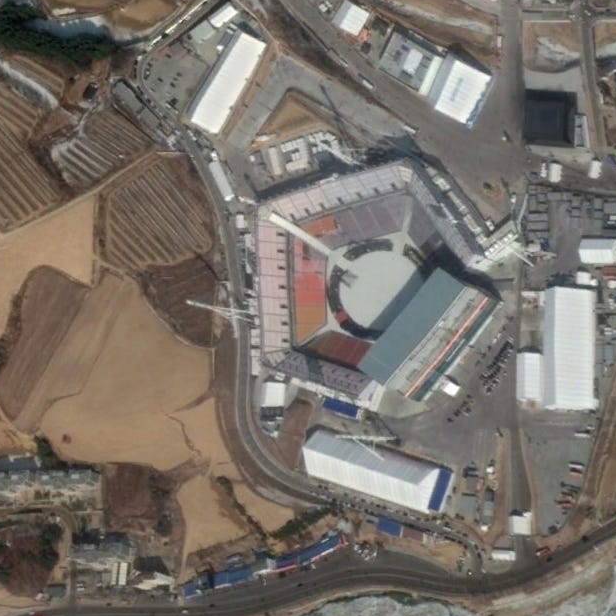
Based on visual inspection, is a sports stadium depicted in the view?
Yes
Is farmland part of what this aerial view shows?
Yes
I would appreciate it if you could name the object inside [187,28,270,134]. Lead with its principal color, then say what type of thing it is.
white tent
